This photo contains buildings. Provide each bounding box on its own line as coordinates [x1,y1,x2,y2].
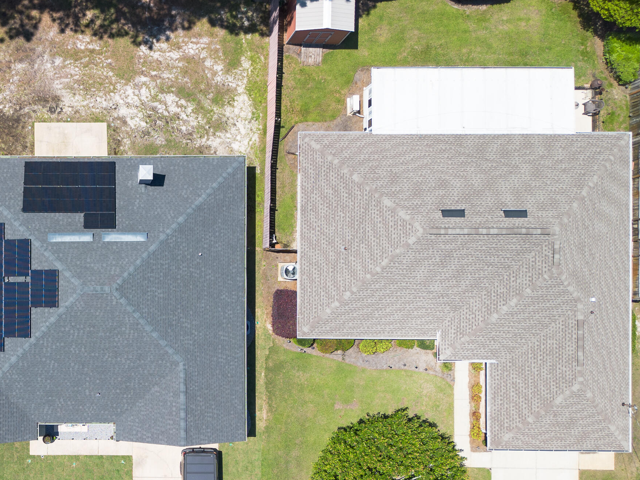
[281,0,356,65]
[0,154,249,447]
[294,65,635,453]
